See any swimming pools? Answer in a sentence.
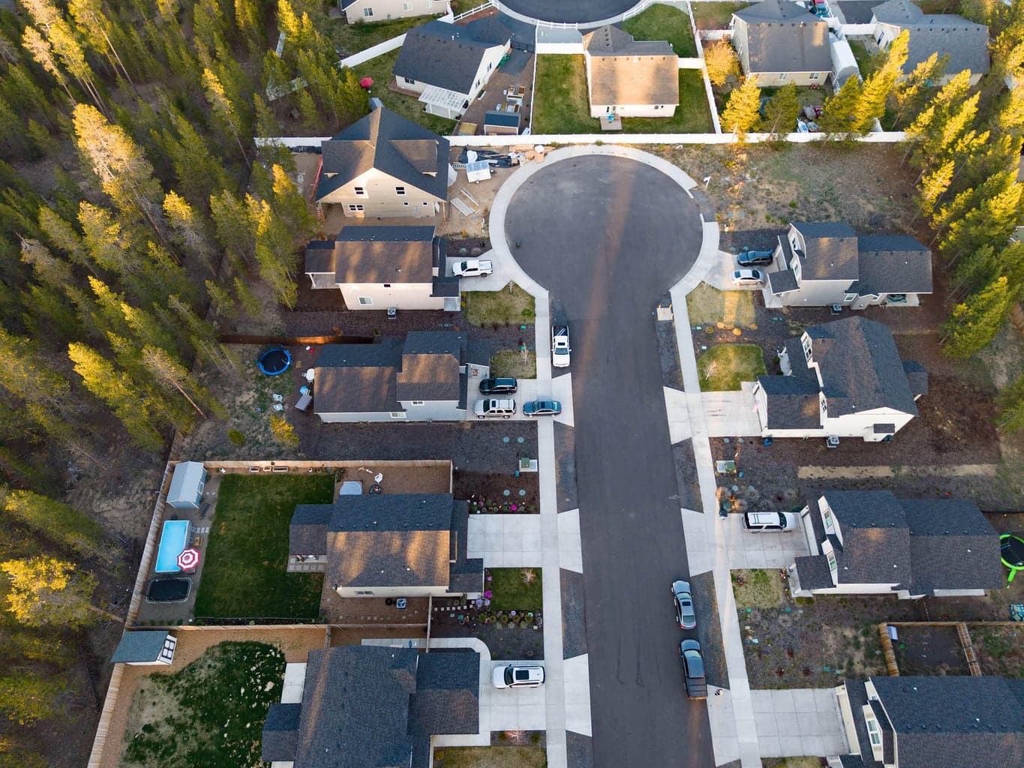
Yes, a swimming pool can be made out from above.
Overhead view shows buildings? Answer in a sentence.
Yes, the photo shows a building.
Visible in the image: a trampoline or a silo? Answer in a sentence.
The image shows a trampoline.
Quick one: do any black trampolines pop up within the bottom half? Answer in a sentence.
Yes, I can see a black trampoline within the bottom half.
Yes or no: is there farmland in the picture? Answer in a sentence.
No, the picture contains no farmland.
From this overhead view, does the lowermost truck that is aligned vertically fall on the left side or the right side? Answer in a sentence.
The lowermost truck that is aligned vertically sits on the right side.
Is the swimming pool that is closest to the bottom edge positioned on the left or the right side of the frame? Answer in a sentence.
It is on the left.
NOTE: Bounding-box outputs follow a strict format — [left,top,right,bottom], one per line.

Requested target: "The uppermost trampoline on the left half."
[251,340,295,382]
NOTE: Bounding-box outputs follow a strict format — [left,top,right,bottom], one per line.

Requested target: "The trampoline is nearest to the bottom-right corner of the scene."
[999,529,1024,586]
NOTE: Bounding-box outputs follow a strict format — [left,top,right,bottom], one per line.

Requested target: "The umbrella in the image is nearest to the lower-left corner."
[176,547,203,572]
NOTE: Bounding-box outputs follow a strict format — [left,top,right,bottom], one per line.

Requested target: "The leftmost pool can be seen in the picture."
[152,515,202,577]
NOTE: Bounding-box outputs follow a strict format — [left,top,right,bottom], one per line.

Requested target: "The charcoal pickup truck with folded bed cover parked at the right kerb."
[681,639,713,705]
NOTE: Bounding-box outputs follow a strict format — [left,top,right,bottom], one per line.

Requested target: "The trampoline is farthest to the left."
[144,579,195,605]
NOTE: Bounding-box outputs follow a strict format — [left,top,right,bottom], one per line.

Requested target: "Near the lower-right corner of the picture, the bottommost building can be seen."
[825,676,1024,768]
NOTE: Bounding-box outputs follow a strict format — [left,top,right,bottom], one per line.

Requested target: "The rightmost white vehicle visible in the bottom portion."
[743,511,797,537]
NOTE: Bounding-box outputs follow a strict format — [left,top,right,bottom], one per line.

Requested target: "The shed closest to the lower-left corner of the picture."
[111,629,177,664]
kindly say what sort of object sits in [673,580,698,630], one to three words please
car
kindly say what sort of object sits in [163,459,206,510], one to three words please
shed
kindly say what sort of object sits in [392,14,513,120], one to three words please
house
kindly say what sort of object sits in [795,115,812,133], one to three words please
boat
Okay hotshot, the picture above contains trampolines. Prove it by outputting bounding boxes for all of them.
[251,340,295,382]
[144,579,195,605]
[999,529,1024,586]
